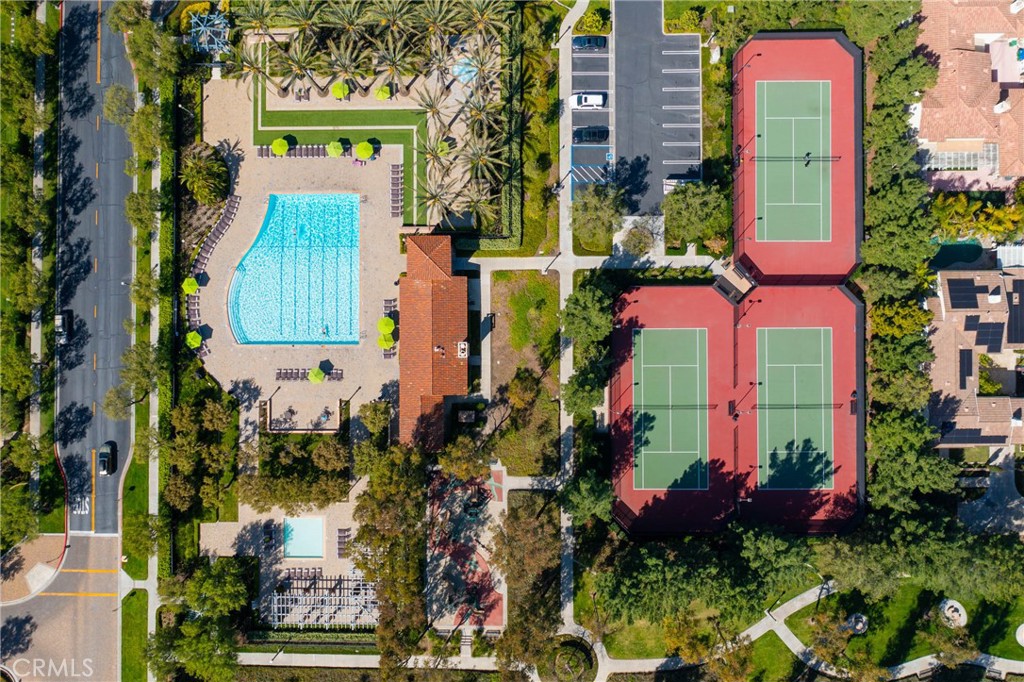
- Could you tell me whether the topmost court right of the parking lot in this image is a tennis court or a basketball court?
tennis court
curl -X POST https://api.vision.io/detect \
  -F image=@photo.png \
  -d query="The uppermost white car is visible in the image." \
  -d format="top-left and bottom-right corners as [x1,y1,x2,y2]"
[568,93,603,111]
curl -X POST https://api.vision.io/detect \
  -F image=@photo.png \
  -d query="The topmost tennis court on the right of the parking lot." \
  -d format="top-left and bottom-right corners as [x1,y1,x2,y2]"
[733,39,856,283]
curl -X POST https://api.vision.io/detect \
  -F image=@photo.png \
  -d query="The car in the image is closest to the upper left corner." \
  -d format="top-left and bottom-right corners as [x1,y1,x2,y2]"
[52,312,72,344]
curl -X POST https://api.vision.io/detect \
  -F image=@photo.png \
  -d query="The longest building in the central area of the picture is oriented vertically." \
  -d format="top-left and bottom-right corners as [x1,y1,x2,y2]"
[399,235,467,451]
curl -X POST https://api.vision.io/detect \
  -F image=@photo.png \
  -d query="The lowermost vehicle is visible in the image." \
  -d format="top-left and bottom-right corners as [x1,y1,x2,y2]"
[96,443,115,476]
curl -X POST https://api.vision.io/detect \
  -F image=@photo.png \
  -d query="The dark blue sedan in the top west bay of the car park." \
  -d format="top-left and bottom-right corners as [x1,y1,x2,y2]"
[573,35,607,52]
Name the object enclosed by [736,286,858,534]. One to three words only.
tennis court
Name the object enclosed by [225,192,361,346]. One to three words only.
swimming pool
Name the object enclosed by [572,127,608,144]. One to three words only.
car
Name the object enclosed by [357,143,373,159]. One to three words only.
umbrella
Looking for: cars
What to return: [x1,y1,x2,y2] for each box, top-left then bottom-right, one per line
[572,127,608,144]
[96,443,115,476]
[52,312,72,344]
[573,35,607,52]
[568,93,603,111]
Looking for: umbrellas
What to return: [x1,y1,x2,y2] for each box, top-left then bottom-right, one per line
[378,334,395,349]
[186,330,203,347]
[273,139,289,155]
[375,85,391,101]
[357,143,373,159]
[435,142,452,157]
[183,278,199,295]
[378,317,394,333]
[328,142,344,158]
[309,368,326,384]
